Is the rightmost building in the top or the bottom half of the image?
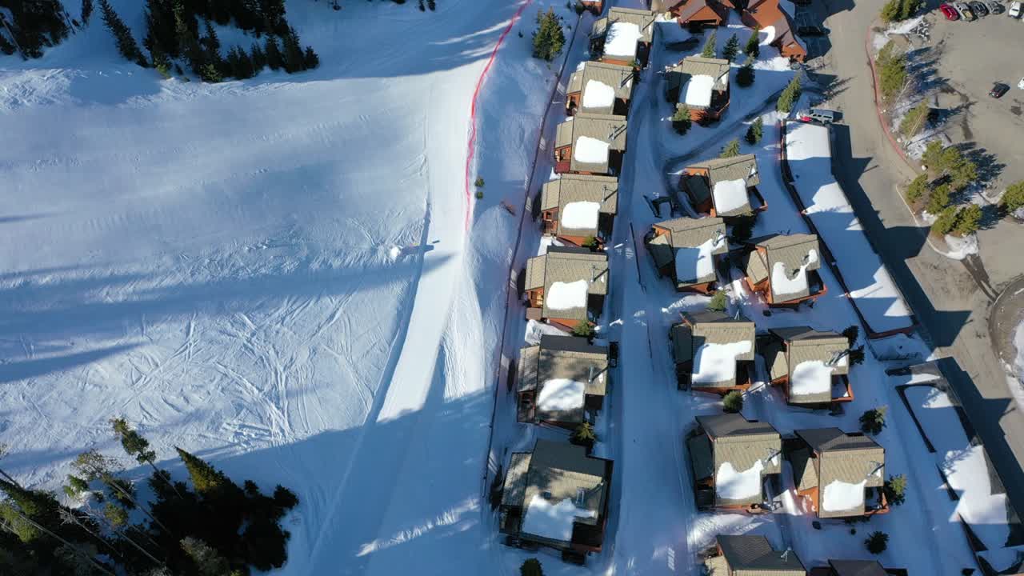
bottom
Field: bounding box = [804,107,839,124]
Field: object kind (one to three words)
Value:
vehicle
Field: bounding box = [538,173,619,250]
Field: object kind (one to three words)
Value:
house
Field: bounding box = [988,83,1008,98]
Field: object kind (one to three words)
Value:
car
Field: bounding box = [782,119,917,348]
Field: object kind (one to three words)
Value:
building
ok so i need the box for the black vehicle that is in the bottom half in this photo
[606,342,621,369]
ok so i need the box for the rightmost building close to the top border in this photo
[726,0,826,70]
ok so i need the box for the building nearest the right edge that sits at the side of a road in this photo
[882,358,1024,576]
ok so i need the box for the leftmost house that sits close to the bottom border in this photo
[495,442,605,554]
